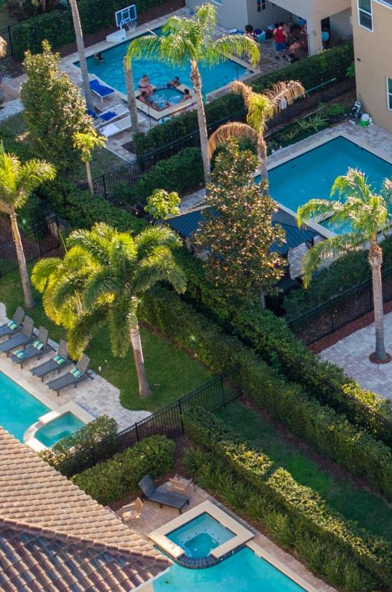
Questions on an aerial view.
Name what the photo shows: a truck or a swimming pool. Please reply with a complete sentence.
Looking from above, you can make out a swimming pool.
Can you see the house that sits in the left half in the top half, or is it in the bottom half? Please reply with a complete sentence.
Seen from above, the house that sits in the left half lies in the bottom half of the view.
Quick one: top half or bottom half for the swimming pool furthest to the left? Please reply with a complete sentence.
It is in the bottom half that the swimming pool furthest to the left appears.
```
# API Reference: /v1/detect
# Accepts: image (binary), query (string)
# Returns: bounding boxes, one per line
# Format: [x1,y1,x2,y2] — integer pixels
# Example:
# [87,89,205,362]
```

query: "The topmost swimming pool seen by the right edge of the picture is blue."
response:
[245,129,392,245]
